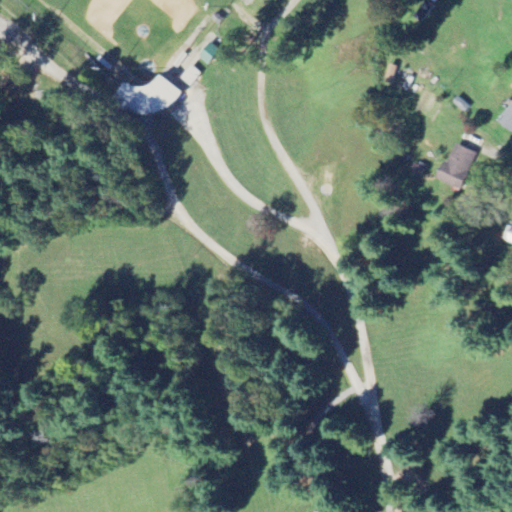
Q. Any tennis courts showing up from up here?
No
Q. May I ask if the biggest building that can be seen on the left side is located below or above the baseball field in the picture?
below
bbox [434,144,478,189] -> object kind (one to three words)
house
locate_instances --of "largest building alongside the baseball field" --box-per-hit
[143,74,182,110]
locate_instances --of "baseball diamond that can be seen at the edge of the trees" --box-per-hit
[86,0,198,74]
